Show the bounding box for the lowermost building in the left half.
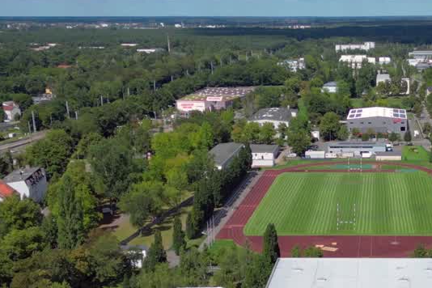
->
[117,245,151,267]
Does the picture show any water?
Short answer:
No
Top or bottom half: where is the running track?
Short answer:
bottom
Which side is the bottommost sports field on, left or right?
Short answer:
right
